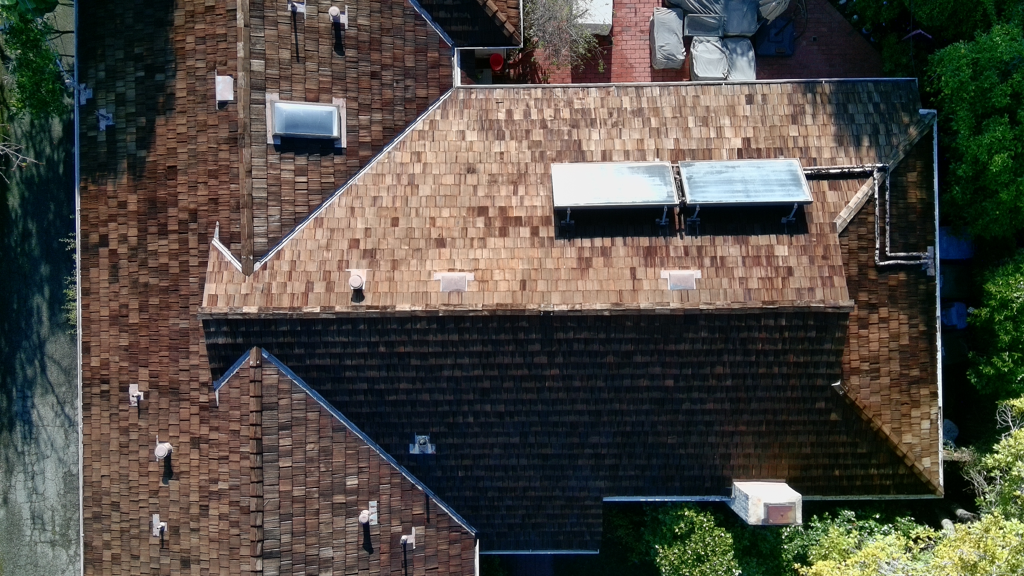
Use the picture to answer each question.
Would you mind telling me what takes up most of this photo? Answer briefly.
buildings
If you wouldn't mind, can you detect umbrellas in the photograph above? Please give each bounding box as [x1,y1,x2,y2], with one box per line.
[754,0,815,56]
